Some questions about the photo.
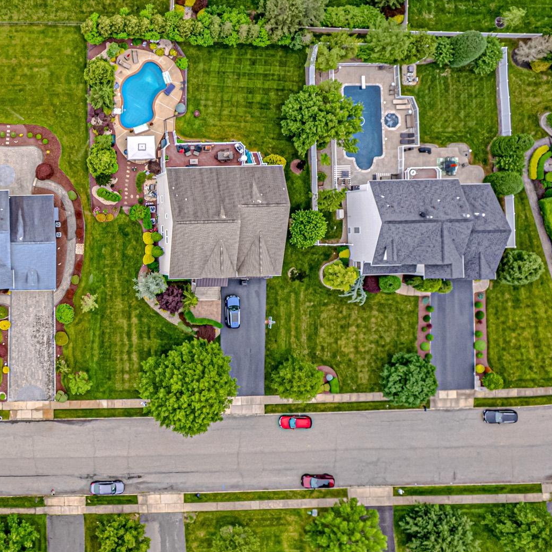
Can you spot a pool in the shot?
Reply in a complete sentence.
Yes, there is a pool in the image.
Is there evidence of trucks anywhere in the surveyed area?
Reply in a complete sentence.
No, the scene contains no truck.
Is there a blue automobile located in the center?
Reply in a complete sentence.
Yes, you'll find a blue automobile in the center.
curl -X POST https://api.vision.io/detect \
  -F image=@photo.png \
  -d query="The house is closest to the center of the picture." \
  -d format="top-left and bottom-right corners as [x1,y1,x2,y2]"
[158,165,291,300]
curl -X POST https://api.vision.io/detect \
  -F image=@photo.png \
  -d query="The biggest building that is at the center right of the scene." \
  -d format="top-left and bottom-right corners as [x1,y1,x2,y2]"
[347,180,514,281]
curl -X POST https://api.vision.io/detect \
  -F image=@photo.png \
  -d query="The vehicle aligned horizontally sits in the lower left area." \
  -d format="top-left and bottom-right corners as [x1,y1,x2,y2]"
[89,479,125,496]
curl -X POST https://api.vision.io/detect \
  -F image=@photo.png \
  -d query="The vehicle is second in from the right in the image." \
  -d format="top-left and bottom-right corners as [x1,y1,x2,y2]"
[300,472,334,489]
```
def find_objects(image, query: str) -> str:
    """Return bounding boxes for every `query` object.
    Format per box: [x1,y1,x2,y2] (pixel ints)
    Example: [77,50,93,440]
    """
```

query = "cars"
[277,413,312,431]
[300,472,334,489]
[480,408,519,425]
[89,479,125,496]
[223,294,242,330]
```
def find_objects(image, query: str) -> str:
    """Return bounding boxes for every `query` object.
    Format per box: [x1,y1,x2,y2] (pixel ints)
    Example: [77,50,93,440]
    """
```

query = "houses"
[158,165,291,300]
[0,190,57,291]
[347,180,514,281]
